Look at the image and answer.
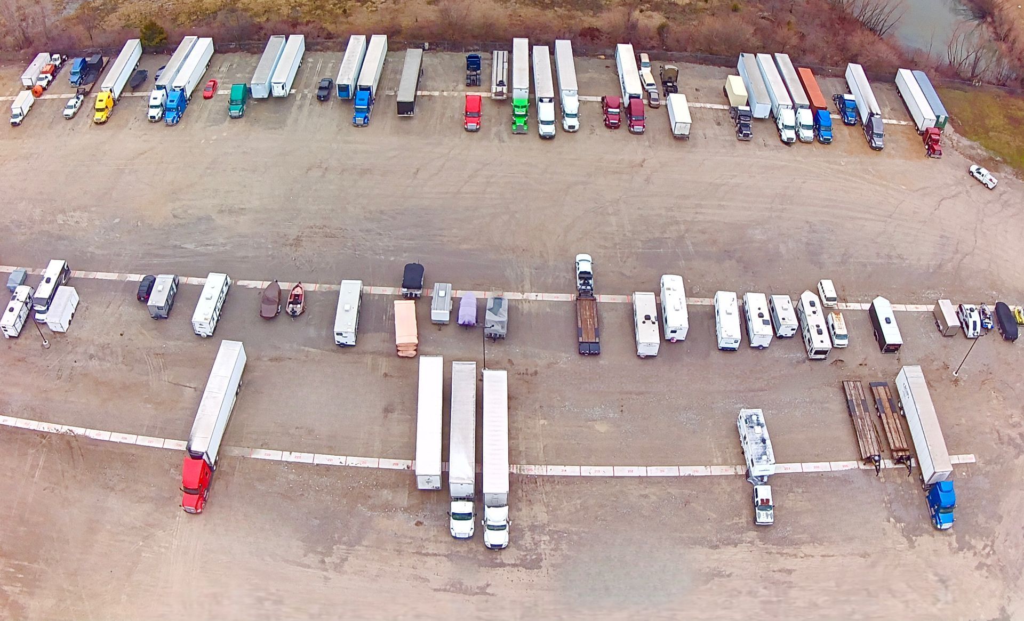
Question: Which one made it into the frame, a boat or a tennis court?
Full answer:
Visible in the photo is a boat.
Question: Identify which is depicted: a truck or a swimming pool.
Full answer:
I can see a truck in this picture.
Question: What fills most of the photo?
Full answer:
The largest share of the image is taken up by paved ground.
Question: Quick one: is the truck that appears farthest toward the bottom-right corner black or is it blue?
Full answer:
The color of the truck that appears farthest toward the bottom-right corner is blue.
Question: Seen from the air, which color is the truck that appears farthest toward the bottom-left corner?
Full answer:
In this view, the truck that appears farthest toward the bottom-left corner is red.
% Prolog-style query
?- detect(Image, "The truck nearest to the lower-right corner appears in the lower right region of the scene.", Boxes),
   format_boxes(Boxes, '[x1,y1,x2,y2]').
[921,470,959,530]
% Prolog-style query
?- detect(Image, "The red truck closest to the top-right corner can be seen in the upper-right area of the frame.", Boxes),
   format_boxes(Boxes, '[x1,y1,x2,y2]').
[916,128,943,157]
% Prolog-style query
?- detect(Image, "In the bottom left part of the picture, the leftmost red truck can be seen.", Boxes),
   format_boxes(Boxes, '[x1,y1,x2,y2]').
[179,451,218,513]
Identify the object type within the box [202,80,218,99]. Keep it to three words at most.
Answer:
car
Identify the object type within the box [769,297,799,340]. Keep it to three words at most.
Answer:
vehicle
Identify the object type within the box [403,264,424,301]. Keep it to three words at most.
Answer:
boat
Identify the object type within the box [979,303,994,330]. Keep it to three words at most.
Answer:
boat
